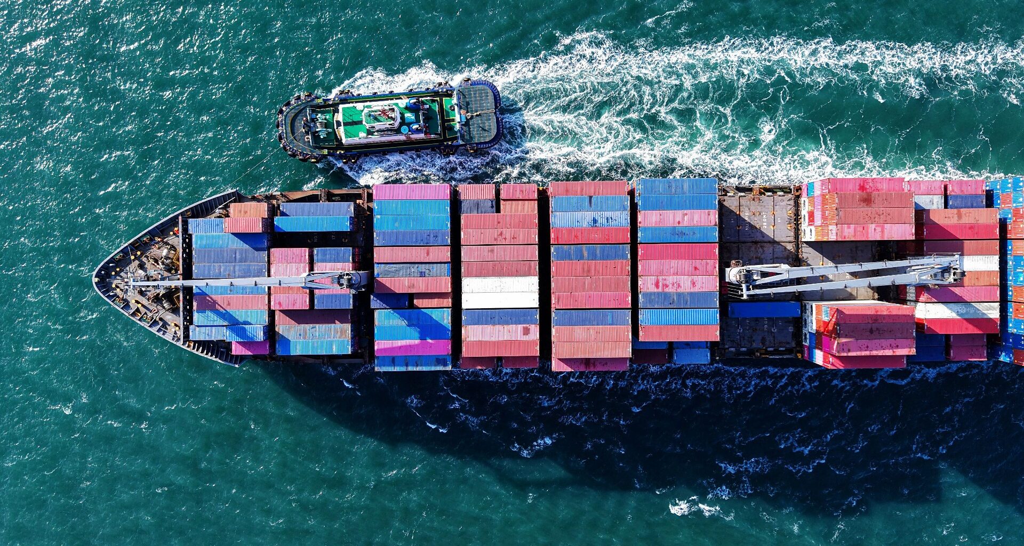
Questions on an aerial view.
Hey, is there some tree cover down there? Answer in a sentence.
No, no tree cover is visible.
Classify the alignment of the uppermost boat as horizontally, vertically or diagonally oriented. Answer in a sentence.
The uppermost boat is laid out horizontally.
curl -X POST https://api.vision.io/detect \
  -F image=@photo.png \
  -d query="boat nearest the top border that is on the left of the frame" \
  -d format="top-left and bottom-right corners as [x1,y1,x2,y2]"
[277,78,506,164]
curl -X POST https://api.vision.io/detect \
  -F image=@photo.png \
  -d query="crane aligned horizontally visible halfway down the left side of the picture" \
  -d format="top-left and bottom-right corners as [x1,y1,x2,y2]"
[129,268,377,297]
